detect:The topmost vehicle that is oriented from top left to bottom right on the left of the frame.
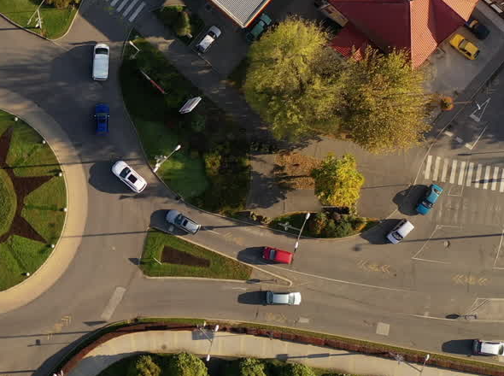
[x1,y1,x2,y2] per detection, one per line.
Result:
[112,161,148,193]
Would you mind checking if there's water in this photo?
No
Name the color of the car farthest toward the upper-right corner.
black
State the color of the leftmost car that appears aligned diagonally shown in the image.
white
